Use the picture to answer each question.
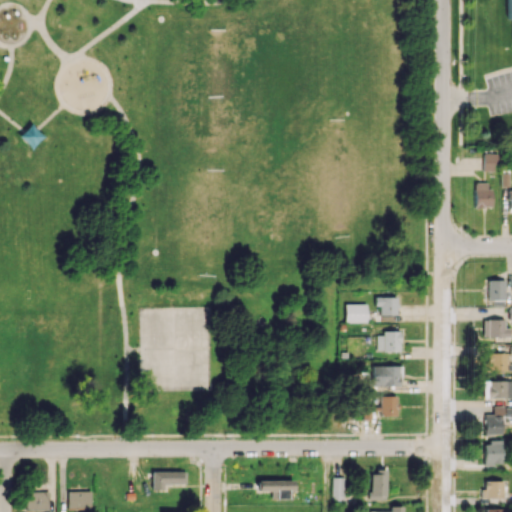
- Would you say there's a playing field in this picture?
Yes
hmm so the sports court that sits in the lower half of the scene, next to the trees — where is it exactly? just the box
[140,308,210,392]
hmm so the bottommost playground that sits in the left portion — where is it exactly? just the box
[54,56,113,116]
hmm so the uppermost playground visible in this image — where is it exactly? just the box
[0,2,32,48]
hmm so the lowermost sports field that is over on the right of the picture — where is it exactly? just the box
[302,120,373,238]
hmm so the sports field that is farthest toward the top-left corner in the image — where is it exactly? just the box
[191,30,242,98]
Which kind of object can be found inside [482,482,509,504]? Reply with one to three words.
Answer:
house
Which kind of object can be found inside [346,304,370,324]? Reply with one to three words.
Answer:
building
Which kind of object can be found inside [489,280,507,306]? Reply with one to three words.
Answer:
house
